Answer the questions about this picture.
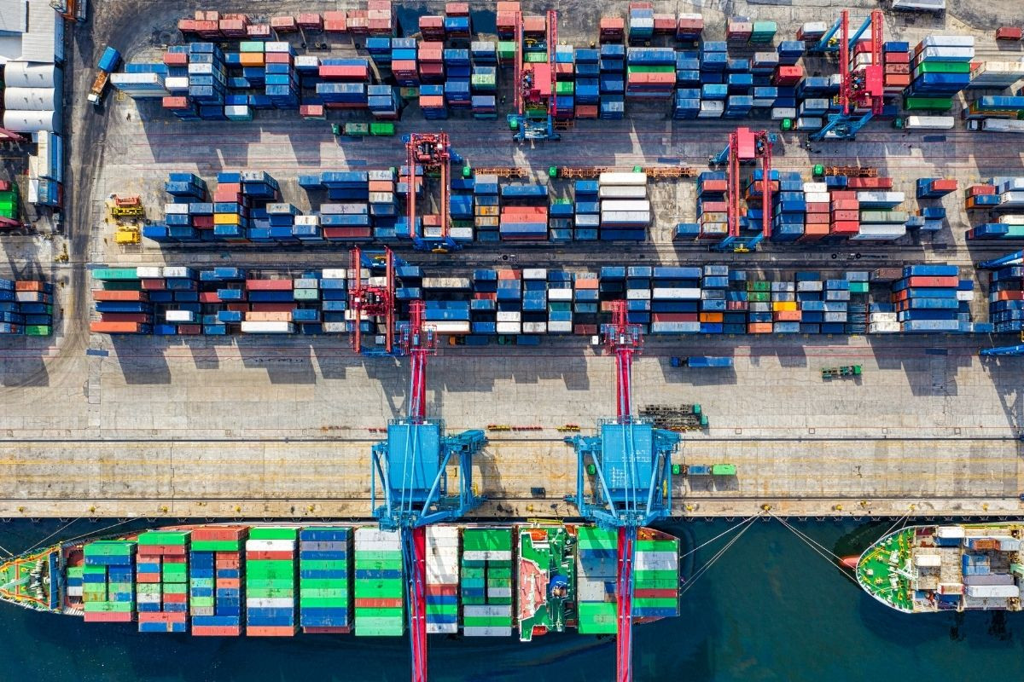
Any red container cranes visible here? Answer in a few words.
Yes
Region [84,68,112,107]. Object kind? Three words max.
truck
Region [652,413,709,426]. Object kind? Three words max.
vehicle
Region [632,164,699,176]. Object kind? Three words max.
vehicle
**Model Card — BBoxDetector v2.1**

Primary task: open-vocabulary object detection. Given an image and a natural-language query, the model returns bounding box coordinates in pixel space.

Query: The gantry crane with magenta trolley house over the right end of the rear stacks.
[810,7,883,138]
